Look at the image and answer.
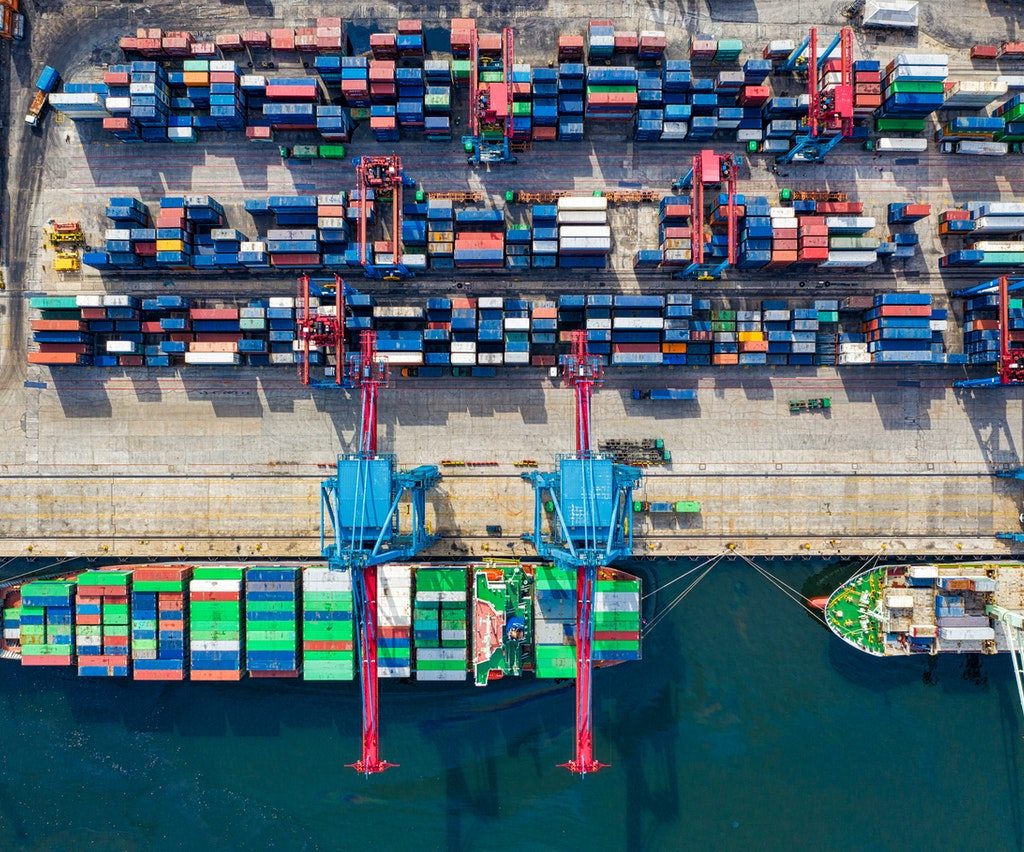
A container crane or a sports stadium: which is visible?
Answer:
container crane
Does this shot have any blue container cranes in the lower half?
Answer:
Yes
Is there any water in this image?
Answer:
Yes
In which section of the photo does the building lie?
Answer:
top right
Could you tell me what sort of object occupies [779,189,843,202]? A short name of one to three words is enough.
vehicle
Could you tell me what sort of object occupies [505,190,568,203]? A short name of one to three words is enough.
vehicle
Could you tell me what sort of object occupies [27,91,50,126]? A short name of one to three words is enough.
truck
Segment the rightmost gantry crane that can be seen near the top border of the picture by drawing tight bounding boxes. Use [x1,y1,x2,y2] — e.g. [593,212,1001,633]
[778,27,852,160]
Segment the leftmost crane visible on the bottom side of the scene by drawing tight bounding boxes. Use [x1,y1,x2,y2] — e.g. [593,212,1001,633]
[323,332,444,781]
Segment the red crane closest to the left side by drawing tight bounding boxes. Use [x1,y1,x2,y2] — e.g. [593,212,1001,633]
[299,274,363,388]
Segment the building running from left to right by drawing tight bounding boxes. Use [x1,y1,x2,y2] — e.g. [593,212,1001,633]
[861,0,919,28]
